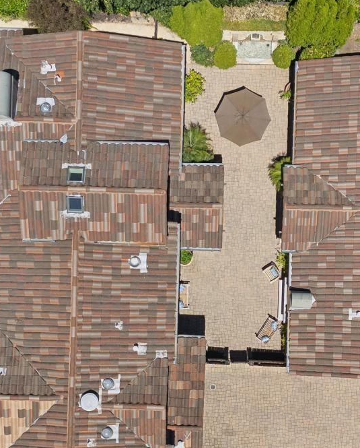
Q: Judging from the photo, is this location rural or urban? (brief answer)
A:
urban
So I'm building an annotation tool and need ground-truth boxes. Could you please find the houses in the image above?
[277,52,360,381]
[0,26,227,448]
